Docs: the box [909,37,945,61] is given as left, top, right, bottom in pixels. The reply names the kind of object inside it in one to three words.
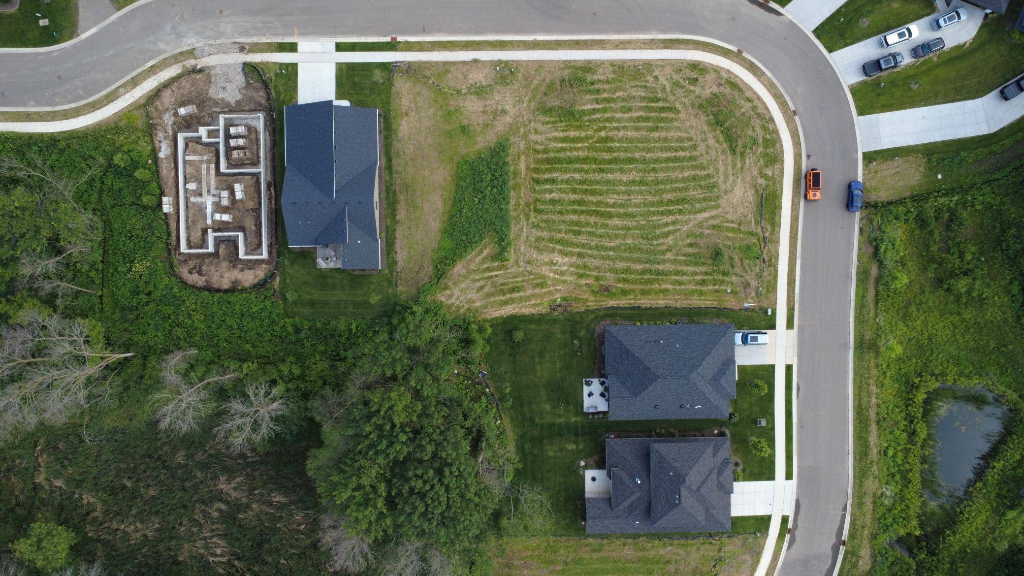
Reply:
car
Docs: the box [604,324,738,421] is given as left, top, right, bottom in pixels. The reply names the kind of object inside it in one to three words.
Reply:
house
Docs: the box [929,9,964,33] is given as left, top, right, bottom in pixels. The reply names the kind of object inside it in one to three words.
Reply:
car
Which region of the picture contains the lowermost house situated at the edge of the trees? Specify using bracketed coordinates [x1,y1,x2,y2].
[585,436,733,534]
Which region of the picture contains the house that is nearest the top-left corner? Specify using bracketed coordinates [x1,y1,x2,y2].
[281,100,382,270]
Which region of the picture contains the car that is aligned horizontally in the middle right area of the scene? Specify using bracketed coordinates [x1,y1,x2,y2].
[733,330,767,347]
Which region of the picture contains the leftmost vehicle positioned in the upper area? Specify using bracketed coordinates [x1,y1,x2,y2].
[803,171,820,201]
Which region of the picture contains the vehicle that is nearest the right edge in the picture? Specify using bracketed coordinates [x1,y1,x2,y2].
[996,73,1024,101]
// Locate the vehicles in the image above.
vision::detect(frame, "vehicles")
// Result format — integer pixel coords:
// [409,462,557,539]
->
[996,73,1024,101]
[803,171,820,201]
[909,37,945,61]
[844,182,863,212]
[733,330,767,347]
[879,27,914,49]
[929,9,964,33]
[860,55,900,78]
